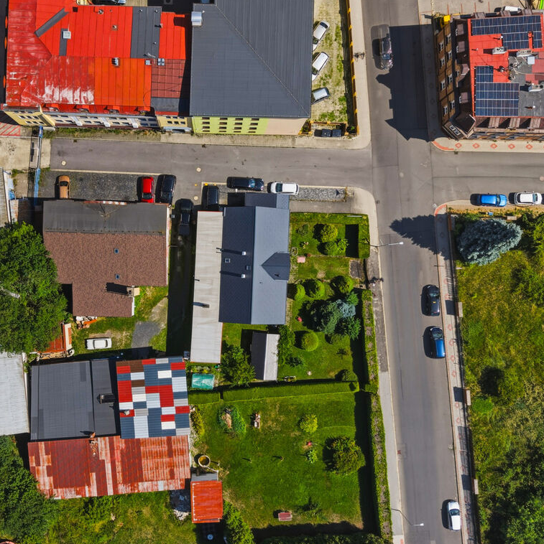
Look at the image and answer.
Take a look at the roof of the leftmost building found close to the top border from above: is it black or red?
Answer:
red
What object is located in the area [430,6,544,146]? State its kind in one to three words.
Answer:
house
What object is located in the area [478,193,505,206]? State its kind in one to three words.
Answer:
vehicle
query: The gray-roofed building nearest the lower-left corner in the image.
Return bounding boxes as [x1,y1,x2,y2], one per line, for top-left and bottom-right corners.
[31,358,119,440]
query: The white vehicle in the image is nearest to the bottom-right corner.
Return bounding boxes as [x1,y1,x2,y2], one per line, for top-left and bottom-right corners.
[445,502,460,529]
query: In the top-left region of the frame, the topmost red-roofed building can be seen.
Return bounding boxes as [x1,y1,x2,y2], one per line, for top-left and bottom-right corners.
[1,0,192,137]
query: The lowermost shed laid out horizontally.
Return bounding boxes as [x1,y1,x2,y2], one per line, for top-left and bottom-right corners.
[28,434,191,500]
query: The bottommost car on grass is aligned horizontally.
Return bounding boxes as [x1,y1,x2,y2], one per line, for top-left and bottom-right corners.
[86,338,111,350]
